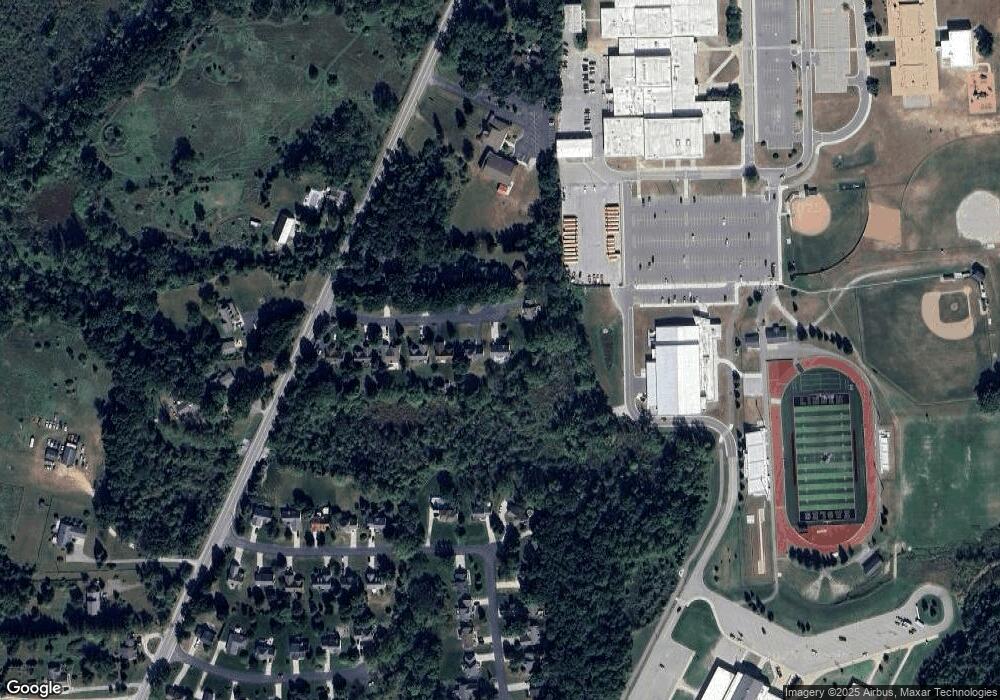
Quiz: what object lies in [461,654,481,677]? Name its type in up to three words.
house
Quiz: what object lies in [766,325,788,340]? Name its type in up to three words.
building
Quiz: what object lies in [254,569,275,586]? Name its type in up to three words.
house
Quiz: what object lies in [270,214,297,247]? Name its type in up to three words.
barn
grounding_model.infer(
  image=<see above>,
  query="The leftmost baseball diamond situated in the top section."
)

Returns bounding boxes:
[790,192,831,235]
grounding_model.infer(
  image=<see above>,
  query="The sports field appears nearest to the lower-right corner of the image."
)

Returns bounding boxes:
[781,368,867,525]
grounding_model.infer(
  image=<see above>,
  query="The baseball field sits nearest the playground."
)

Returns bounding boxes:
[957,190,1000,244]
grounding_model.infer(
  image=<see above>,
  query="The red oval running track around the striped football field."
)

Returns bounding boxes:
[768,353,881,558]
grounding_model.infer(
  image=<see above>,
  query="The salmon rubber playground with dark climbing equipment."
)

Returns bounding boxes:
[968,62,995,113]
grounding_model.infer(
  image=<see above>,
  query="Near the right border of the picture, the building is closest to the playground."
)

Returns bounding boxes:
[941,28,976,67]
